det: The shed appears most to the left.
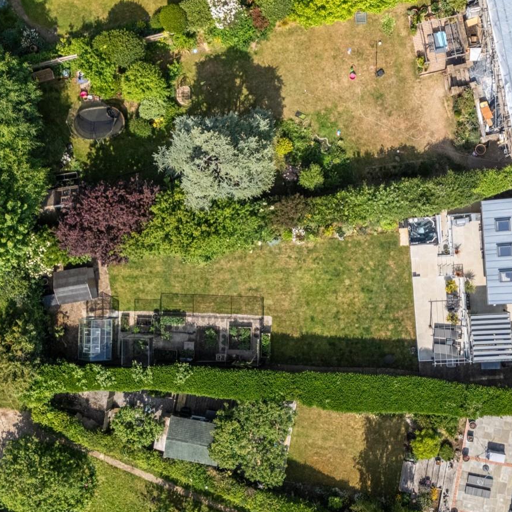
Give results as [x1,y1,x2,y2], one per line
[54,267,98,305]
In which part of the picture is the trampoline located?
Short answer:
top left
